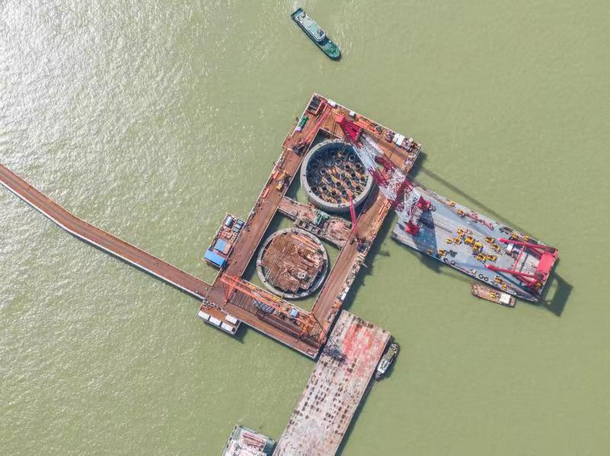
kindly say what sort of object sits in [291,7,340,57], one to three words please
boat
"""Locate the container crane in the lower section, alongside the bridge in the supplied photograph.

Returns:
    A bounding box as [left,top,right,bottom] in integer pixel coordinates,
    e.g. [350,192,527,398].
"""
[223,274,322,344]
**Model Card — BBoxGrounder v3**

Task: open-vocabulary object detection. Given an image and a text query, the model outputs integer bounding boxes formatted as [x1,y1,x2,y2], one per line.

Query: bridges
[0,163,212,300]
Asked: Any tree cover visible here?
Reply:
No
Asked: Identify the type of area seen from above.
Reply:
port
